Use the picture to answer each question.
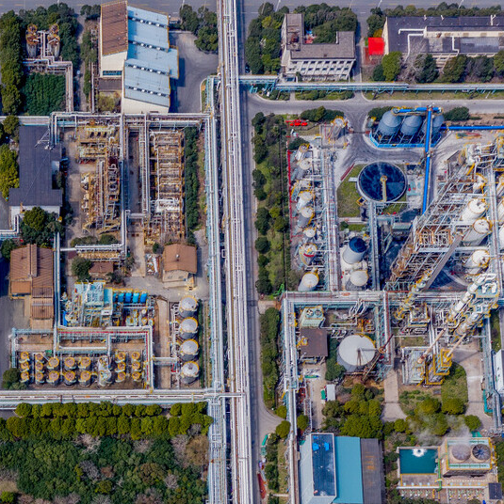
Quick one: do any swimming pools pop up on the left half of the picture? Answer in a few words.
No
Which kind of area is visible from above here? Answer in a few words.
industrial area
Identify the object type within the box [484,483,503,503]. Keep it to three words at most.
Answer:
shed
